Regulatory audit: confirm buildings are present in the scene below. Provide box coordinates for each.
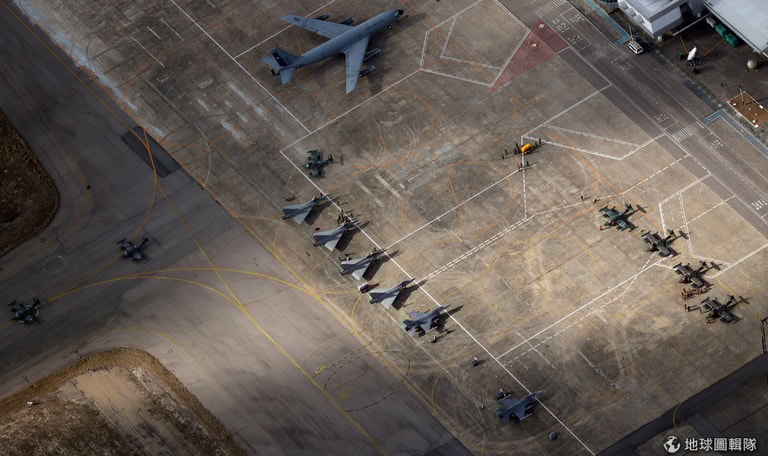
[694,0,768,60]
[609,0,685,39]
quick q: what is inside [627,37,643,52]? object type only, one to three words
vehicle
